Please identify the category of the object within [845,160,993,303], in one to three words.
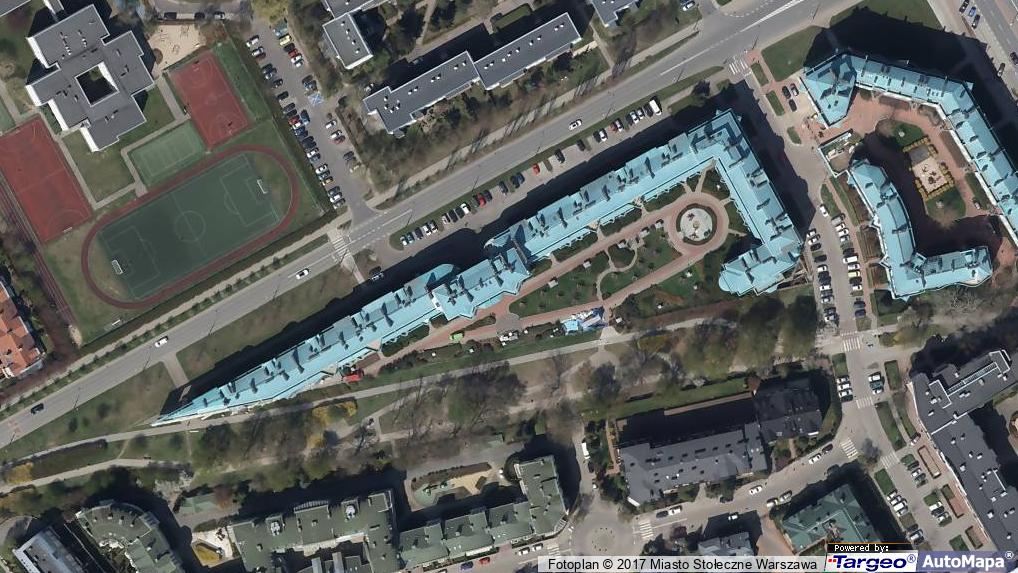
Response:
building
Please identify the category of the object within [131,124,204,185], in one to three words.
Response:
sports court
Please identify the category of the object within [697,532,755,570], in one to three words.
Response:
house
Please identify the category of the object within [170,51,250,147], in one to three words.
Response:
basketball court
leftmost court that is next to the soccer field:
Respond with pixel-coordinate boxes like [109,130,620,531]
[0,115,92,244]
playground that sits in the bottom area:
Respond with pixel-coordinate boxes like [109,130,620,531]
[411,463,494,512]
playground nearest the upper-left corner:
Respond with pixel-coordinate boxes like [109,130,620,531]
[150,24,203,71]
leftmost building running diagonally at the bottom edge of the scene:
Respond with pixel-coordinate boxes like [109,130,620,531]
[73,497,189,573]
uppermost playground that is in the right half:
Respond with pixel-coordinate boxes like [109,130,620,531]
[913,157,947,193]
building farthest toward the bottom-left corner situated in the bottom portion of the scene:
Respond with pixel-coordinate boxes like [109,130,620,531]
[12,528,86,573]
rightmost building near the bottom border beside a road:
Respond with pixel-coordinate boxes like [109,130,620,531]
[906,349,1018,573]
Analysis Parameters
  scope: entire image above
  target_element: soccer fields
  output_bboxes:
[98,154,278,298]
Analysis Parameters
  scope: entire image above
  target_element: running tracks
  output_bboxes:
[83,145,299,309]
